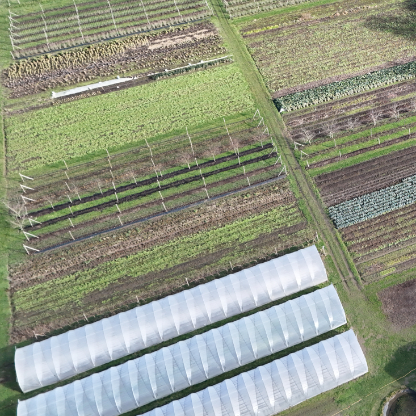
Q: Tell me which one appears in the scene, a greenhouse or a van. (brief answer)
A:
greenhouse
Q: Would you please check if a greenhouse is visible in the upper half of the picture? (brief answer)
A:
No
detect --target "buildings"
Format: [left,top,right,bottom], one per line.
[120,326,369,416]
[10,244,327,392]
[12,283,347,416]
